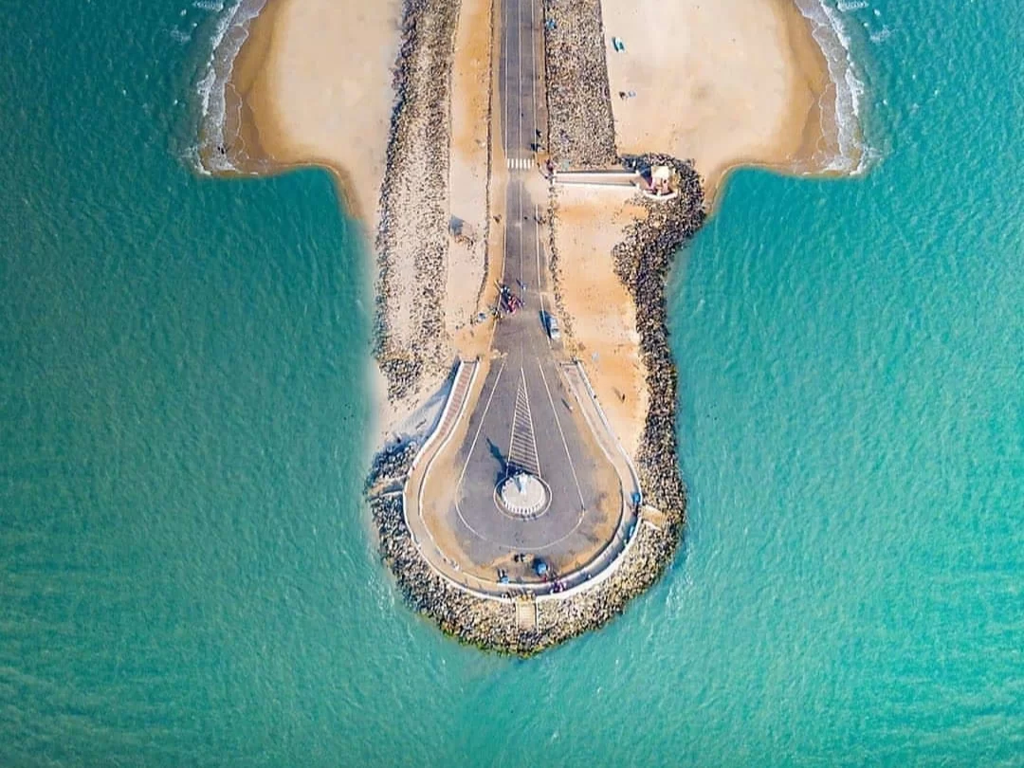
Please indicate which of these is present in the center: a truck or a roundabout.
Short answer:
roundabout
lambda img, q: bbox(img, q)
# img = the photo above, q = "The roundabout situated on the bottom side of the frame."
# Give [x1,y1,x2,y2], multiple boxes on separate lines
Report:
[445,346,617,581]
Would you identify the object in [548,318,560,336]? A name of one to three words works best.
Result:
vehicle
